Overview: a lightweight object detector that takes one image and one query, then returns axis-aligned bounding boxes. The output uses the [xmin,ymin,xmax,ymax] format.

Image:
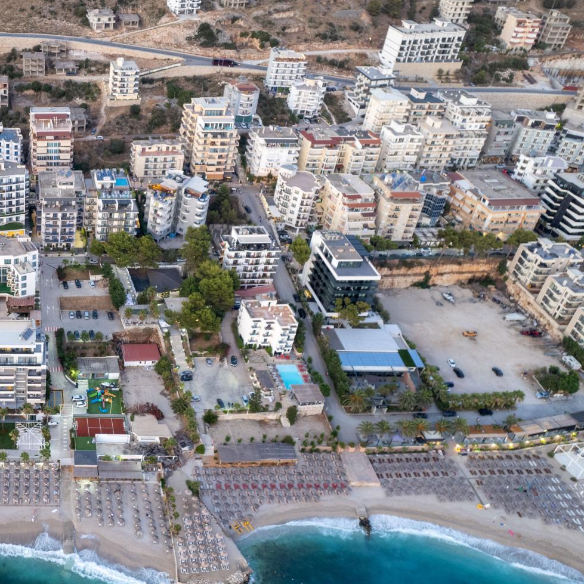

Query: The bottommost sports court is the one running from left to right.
[75,418,125,436]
